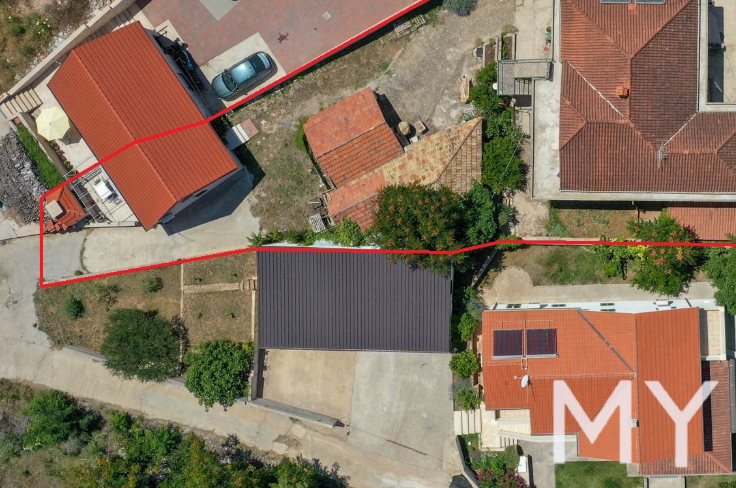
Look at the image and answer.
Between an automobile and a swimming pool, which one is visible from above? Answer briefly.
automobile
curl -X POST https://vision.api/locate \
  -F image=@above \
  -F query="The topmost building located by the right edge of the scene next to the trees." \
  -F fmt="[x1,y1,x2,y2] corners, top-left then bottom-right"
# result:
[533,0,736,201]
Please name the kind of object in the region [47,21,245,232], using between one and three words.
house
